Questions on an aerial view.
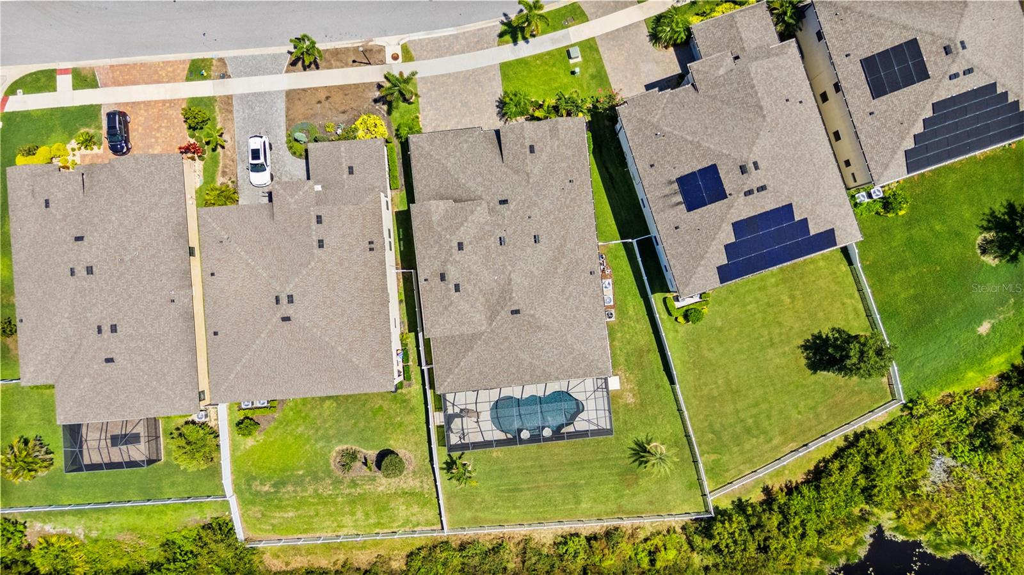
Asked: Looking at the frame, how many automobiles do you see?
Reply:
2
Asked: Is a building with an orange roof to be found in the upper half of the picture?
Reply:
No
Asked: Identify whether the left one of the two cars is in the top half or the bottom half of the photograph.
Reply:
top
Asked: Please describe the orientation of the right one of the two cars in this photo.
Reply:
up and down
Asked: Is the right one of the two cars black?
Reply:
No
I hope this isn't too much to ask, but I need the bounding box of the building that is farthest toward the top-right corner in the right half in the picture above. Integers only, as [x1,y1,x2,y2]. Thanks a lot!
[788,0,1024,191]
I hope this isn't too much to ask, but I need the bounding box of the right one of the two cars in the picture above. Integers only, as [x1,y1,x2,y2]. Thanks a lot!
[245,134,272,188]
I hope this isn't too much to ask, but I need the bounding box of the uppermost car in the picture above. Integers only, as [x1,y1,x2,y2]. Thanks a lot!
[102,110,132,159]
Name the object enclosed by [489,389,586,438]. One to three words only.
swimming pool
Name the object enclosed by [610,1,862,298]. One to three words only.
house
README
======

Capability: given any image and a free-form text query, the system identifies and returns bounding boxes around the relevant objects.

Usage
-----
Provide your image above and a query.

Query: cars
[245,134,272,188]
[102,110,132,159]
